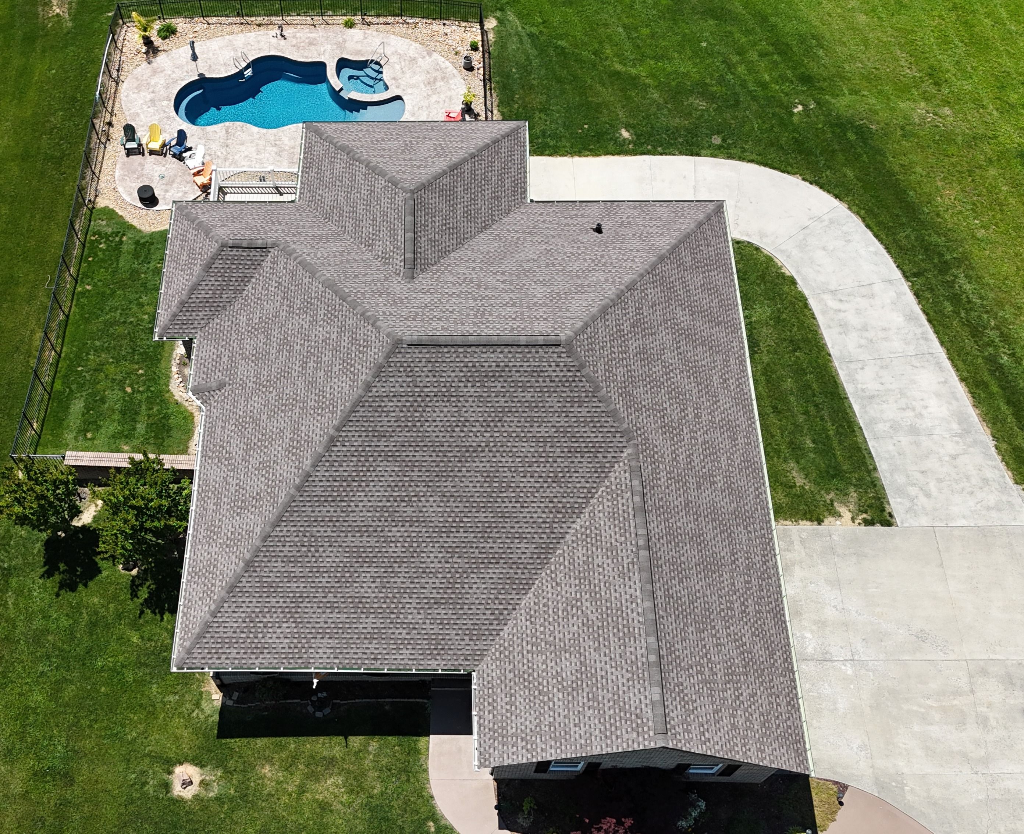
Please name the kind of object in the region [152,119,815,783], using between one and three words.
house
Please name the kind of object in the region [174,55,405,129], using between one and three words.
swimming pool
